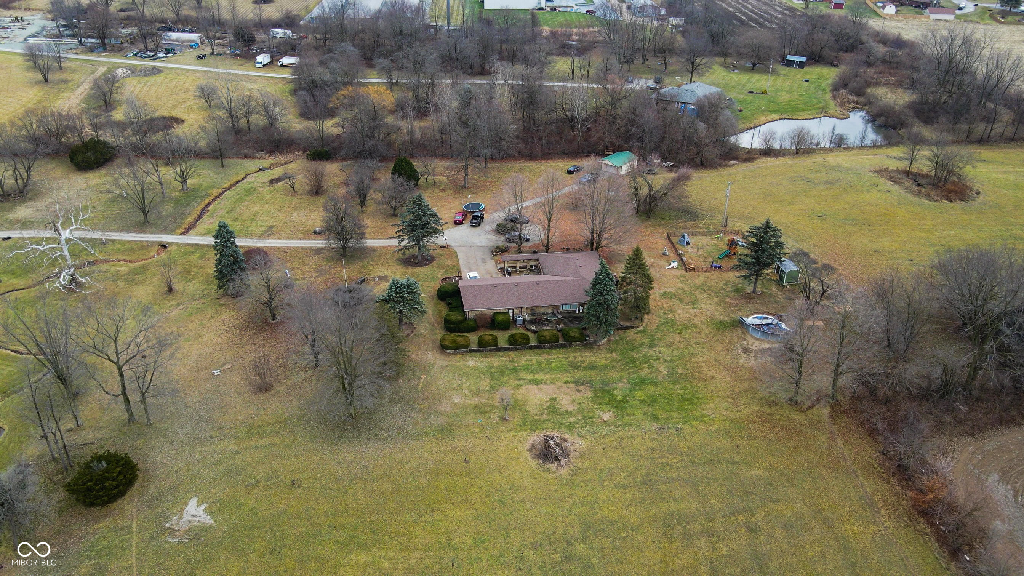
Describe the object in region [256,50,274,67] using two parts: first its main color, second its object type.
white vehicle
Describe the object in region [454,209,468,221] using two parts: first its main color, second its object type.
red vehicle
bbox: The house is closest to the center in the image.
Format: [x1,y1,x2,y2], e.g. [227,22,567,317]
[460,250,620,322]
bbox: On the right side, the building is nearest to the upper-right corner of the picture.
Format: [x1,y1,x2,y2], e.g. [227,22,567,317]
[925,7,957,20]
